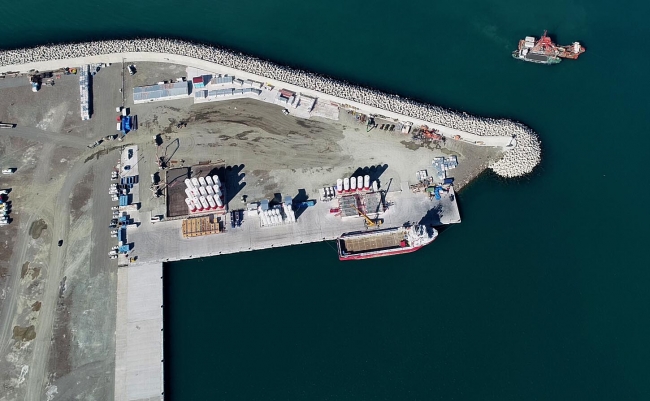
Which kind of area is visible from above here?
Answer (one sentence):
This image shows a port.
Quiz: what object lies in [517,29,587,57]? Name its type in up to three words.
ship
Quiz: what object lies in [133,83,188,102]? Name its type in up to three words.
shed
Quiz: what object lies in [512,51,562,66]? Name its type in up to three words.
ship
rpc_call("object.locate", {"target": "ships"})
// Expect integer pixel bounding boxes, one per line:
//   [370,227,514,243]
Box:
[338,223,438,261]
[512,51,562,66]
[517,29,587,57]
